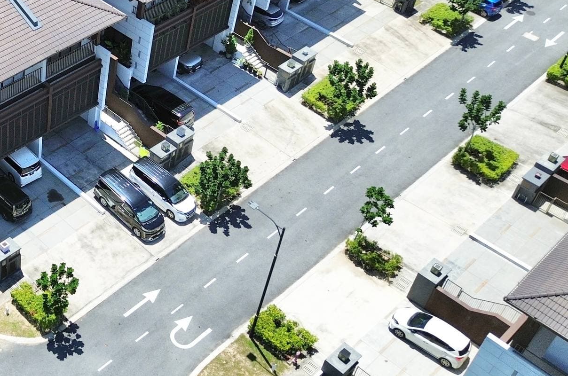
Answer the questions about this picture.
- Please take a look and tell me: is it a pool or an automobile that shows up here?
automobile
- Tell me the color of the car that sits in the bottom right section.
white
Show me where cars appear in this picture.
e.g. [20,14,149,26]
[93,162,174,240]
[259,1,296,33]
[0,176,53,239]
[385,303,481,374]
[469,0,507,20]
[0,148,67,203]
[136,83,203,132]
[179,53,193,63]
[125,148,206,221]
